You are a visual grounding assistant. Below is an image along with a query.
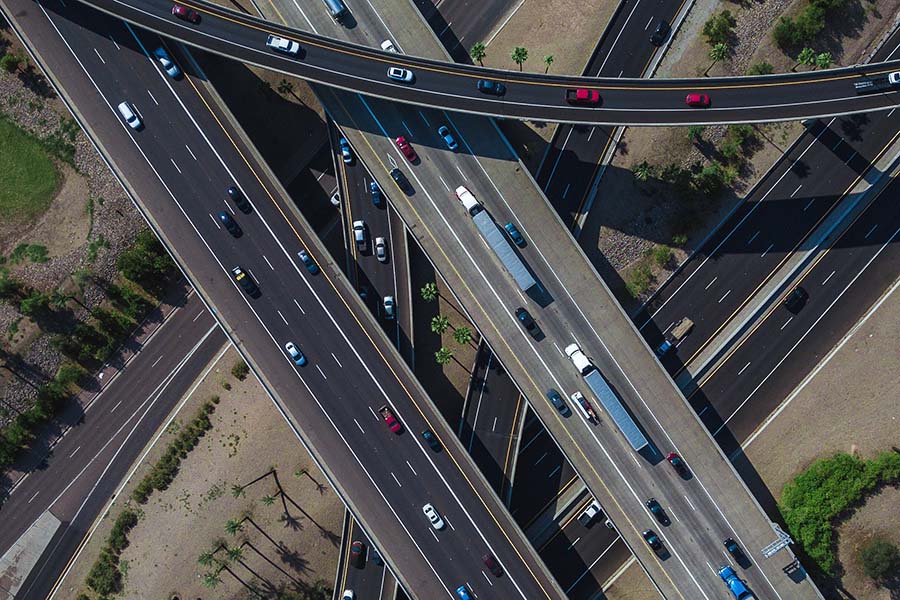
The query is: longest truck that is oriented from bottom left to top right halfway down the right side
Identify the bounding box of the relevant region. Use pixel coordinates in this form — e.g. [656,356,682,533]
[655,314,695,356]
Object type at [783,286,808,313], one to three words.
car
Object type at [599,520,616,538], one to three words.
car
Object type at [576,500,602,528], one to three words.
truck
